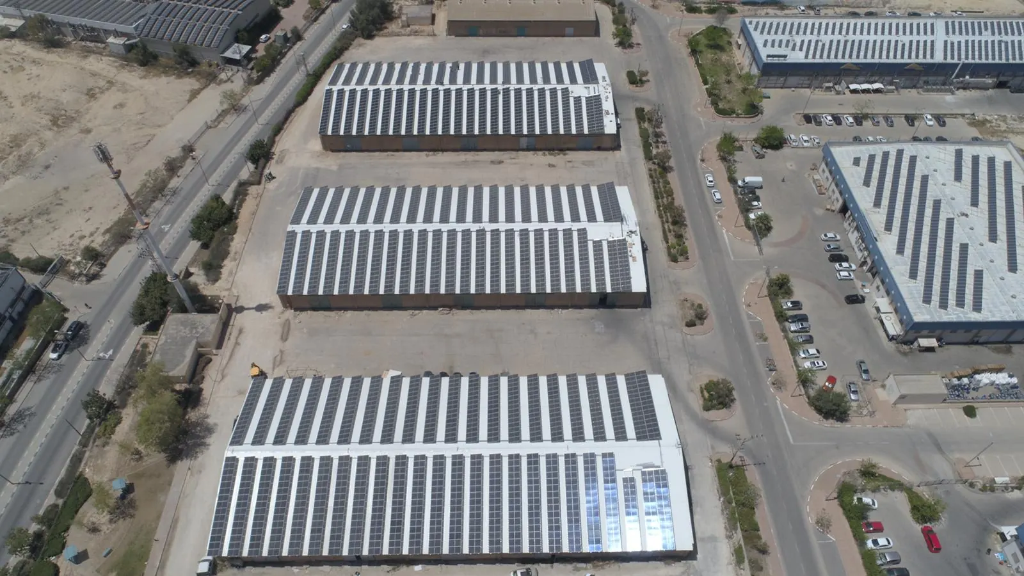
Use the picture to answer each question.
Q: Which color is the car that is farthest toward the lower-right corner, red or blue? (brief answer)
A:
red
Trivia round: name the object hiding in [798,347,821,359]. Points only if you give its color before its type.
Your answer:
white vehicle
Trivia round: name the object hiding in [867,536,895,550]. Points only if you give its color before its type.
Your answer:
white car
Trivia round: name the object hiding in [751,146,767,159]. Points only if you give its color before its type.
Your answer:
gray vehicle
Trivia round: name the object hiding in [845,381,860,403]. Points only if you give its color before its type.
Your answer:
gray car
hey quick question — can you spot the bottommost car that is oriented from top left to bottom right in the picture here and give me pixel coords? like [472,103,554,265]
[920,526,945,554]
